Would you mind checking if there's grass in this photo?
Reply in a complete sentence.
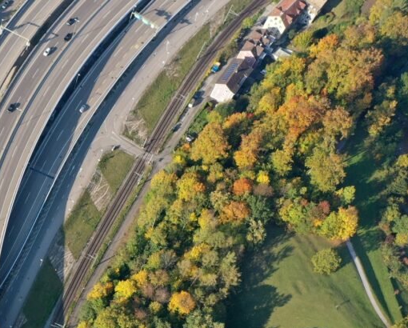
Yes, the picture does contain grass.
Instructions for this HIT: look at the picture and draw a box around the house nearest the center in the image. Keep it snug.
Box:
[208,54,250,97]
